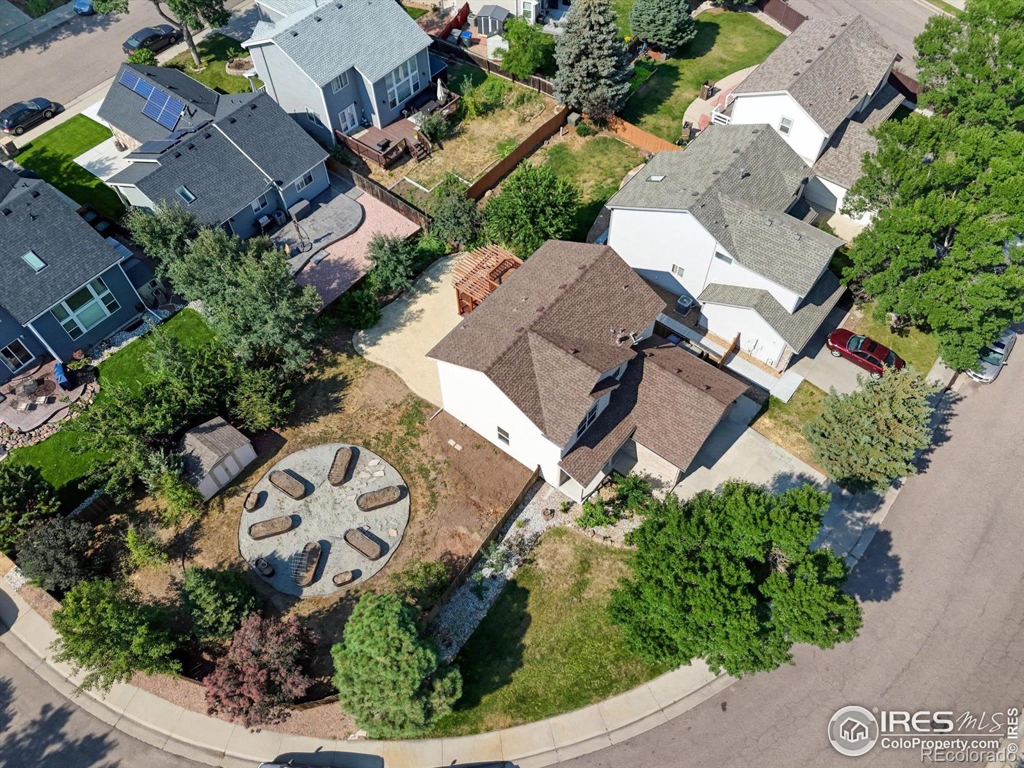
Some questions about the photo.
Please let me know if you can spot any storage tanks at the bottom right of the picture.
No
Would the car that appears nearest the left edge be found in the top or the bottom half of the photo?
top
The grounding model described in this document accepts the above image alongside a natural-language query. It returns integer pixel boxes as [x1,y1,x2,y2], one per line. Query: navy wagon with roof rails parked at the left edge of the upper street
[0,95,55,135]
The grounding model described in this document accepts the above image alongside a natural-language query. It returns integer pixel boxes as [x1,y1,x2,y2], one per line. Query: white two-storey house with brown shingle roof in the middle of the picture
[424,239,750,505]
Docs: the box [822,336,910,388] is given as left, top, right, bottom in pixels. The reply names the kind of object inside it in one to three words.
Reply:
car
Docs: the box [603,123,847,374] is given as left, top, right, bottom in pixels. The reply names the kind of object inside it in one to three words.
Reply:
house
